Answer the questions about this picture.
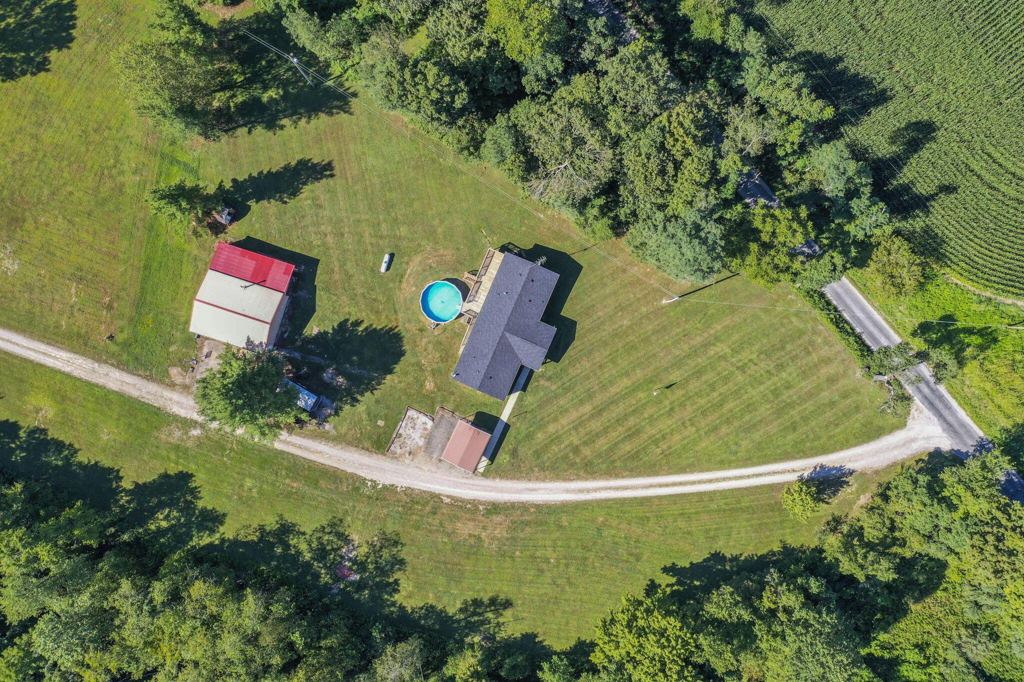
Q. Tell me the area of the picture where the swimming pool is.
center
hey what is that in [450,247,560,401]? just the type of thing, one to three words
house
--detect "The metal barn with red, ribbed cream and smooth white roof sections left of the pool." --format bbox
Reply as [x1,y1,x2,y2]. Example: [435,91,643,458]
[190,241,298,354]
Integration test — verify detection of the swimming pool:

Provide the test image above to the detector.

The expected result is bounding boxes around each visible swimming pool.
[420,280,463,323]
